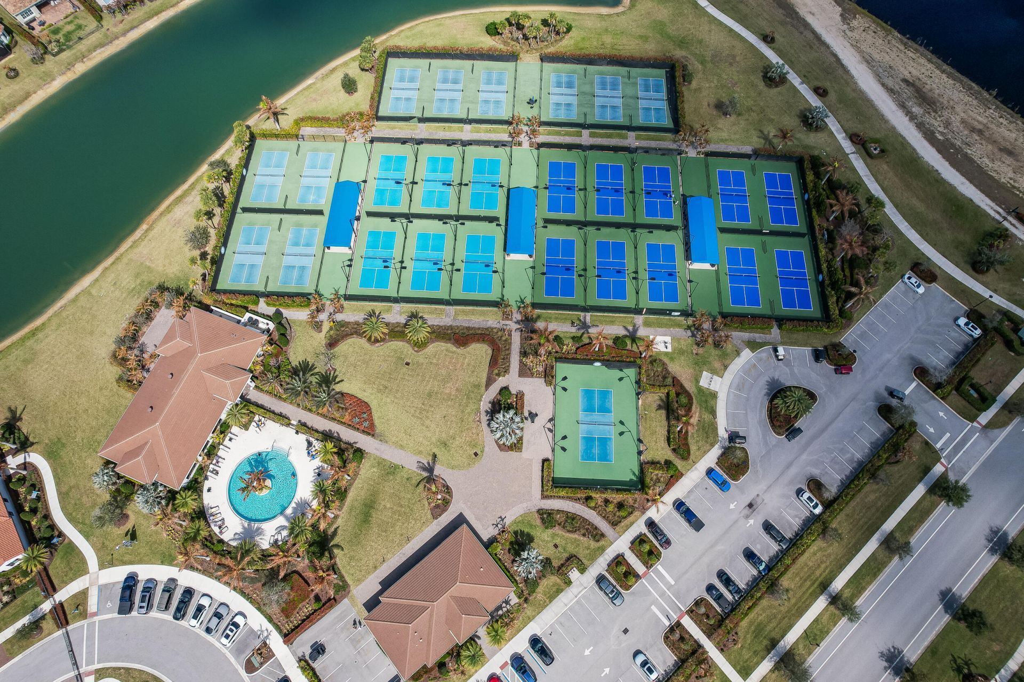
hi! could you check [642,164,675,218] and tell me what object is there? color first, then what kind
blue sports court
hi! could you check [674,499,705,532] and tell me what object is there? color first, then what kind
blue truck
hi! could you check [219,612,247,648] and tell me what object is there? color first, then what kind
white car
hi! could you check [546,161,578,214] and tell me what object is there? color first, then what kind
blue sports court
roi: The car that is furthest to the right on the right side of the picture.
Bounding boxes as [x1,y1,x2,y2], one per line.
[953,317,983,339]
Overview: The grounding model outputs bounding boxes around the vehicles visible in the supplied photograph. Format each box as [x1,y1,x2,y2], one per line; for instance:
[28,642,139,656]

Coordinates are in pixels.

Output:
[727,435,748,444]
[784,427,806,441]
[189,594,213,629]
[812,350,827,363]
[511,653,538,682]
[762,520,791,550]
[173,587,197,621]
[632,650,660,682]
[204,603,230,637]
[953,317,983,339]
[646,518,672,549]
[833,365,855,375]
[900,274,925,296]
[219,612,247,648]
[674,499,705,532]
[135,579,158,614]
[887,389,909,400]
[309,641,328,662]
[743,547,769,576]
[716,569,745,601]
[704,582,735,616]
[155,576,179,613]
[797,488,824,516]
[529,635,555,667]
[597,574,623,606]
[774,348,786,361]
[705,467,732,493]
[118,576,139,614]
